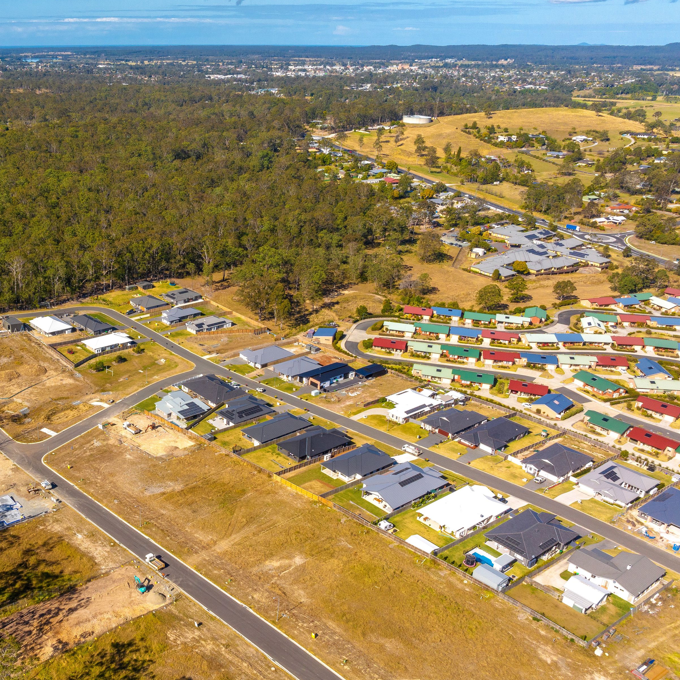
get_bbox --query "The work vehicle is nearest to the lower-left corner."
[132,576,147,596]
